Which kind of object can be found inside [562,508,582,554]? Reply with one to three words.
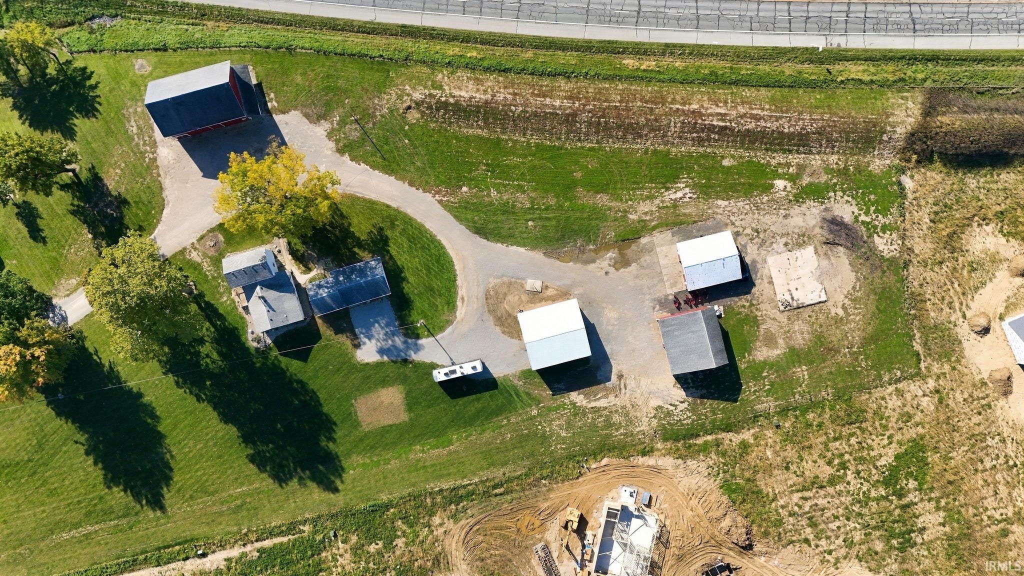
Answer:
work vehicle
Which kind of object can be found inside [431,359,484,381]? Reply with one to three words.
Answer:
trailer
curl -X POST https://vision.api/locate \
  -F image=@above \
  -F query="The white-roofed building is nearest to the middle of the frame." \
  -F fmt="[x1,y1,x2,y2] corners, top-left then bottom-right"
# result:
[518,298,591,370]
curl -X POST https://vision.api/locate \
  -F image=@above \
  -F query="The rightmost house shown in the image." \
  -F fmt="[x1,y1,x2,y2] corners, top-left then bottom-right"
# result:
[995,310,1024,368]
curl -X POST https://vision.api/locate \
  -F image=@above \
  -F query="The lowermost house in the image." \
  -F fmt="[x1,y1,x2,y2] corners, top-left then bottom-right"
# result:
[593,499,659,576]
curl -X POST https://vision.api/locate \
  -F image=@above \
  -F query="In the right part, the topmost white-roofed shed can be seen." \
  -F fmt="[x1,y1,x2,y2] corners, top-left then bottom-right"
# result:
[674,230,743,291]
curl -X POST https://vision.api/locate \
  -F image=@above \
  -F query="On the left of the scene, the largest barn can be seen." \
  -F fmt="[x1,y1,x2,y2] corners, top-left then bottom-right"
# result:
[143,60,265,141]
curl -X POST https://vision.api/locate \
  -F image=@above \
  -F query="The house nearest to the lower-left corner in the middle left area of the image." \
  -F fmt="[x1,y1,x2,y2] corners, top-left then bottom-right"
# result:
[222,248,305,334]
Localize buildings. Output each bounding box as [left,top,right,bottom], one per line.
[143,60,265,141]
[655,305,728,375]
[308,257,391,316]
[995,310,1024,368]
[222,248,305,334]
[674,230,743,291]
[593,499,659,576]
[518,298,591,370]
